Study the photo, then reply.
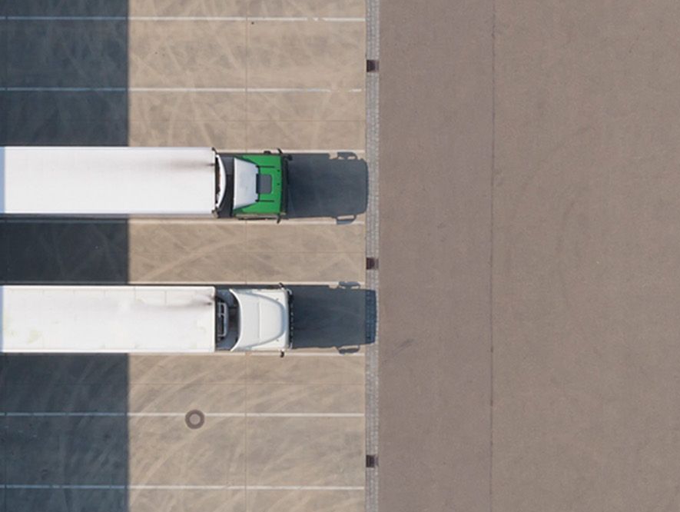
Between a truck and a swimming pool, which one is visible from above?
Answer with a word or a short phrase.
truck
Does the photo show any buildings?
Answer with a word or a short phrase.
No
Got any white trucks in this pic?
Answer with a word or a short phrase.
Yes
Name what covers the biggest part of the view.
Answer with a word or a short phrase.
paved ground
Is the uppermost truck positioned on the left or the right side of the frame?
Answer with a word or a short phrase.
left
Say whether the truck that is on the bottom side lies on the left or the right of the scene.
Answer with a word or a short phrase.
left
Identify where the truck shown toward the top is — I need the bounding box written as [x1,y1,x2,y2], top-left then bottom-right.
[0,145,293,222]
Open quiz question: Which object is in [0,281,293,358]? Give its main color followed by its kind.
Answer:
white truck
